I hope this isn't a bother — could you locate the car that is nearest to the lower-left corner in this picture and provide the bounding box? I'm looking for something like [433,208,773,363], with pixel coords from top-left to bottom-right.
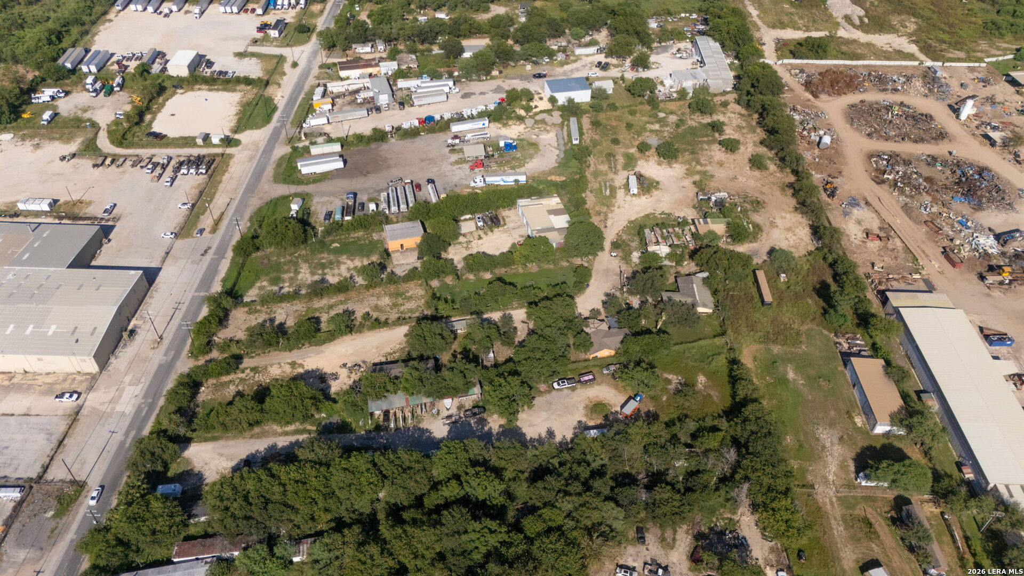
[88,486,106,509]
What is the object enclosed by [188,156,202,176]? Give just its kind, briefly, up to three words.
vehicle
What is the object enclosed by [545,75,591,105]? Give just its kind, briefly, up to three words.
building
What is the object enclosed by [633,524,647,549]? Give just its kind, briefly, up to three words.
car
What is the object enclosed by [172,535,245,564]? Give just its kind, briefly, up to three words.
house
